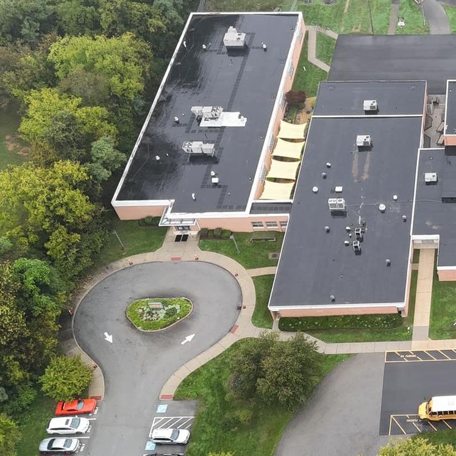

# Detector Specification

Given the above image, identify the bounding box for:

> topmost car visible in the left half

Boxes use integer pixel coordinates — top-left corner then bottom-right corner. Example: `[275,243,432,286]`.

[54,397,98,416]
